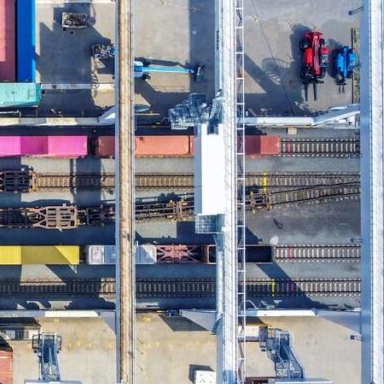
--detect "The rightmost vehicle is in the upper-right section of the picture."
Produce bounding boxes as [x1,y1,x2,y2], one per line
[332,48,355,92]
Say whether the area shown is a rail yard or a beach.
rail yard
